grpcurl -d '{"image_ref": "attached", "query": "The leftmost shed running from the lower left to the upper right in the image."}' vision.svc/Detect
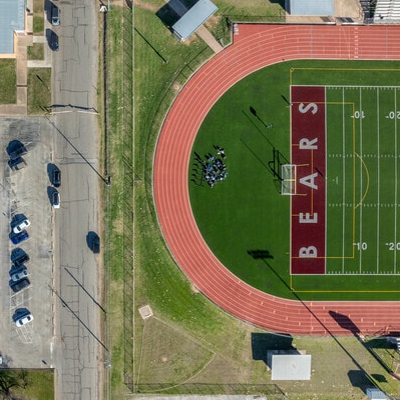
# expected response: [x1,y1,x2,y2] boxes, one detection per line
[171,0,217,44]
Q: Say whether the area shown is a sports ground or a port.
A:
sports ground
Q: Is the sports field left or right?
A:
right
